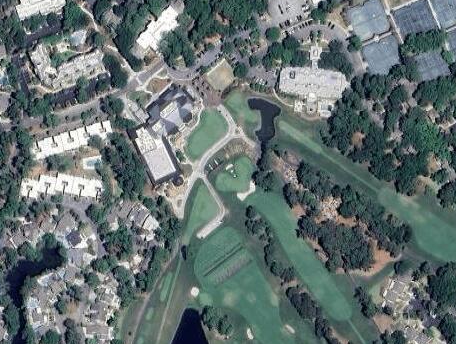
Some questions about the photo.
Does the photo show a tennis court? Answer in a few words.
Yes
